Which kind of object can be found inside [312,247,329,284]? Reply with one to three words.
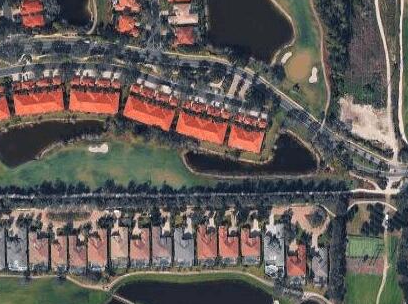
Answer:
house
